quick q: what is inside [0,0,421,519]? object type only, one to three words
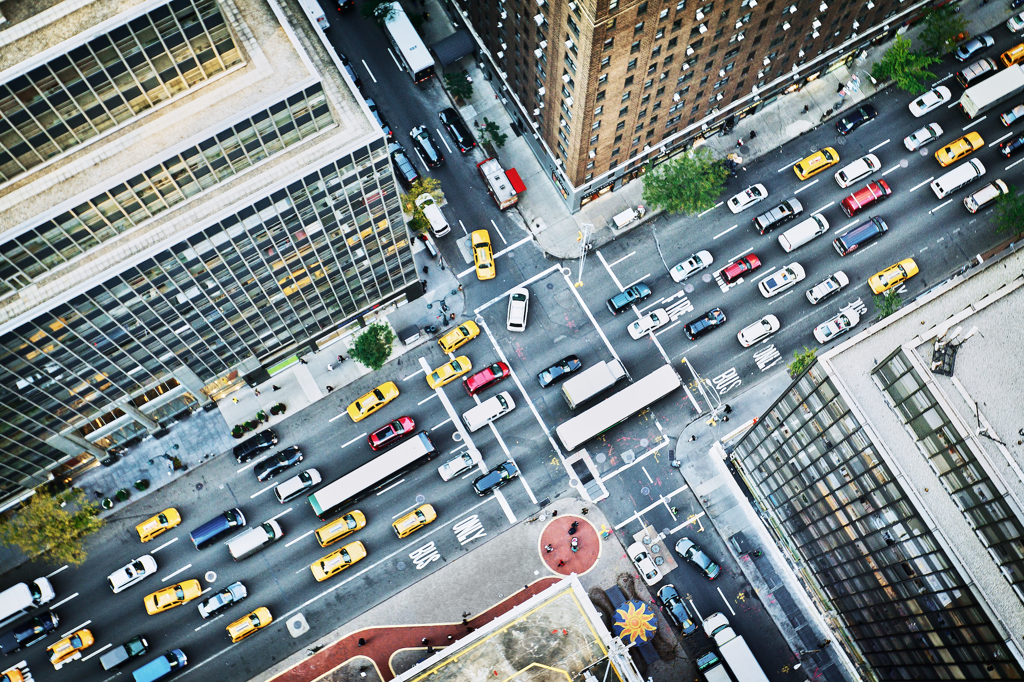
building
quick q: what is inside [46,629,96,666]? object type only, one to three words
car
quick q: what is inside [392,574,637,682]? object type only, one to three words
building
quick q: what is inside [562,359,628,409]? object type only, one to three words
truck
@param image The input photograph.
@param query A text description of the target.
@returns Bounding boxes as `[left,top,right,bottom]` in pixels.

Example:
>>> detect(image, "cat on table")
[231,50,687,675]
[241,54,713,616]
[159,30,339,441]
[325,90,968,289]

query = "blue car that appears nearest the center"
[538,355,582,388]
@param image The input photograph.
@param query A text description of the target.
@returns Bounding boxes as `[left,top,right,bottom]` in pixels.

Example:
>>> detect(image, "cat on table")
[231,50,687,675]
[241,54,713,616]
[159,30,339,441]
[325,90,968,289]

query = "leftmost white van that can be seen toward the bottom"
[0,583,58,628]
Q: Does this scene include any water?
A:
No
